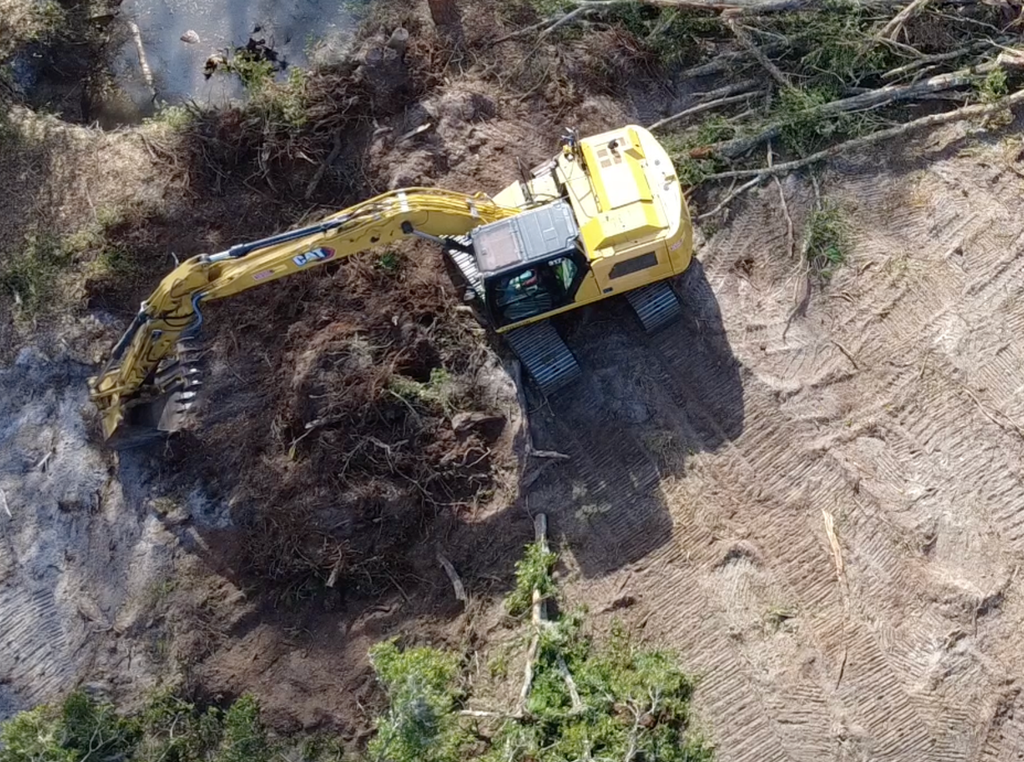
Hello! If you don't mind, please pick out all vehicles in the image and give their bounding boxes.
[83,129,693,446]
